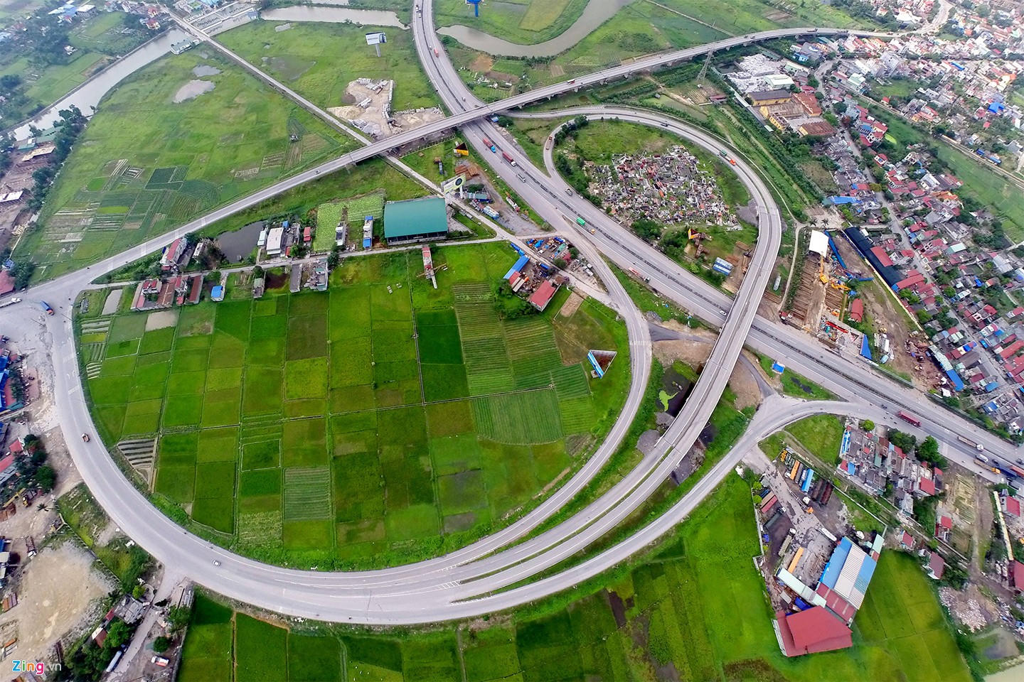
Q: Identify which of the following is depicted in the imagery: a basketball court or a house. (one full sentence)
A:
Visible in the photo is a house.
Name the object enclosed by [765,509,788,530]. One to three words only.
truck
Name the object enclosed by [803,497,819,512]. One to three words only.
vehicle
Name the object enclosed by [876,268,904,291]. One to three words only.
shed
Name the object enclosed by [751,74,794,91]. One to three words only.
house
